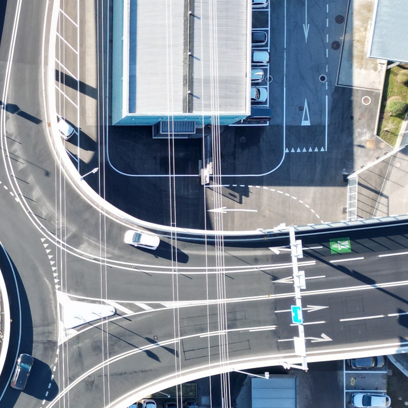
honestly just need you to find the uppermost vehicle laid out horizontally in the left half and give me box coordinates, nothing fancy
[120,229,161,249]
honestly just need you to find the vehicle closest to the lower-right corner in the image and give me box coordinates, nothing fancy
[351,391,389,408]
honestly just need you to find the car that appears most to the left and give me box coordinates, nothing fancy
[12,353,33,390]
